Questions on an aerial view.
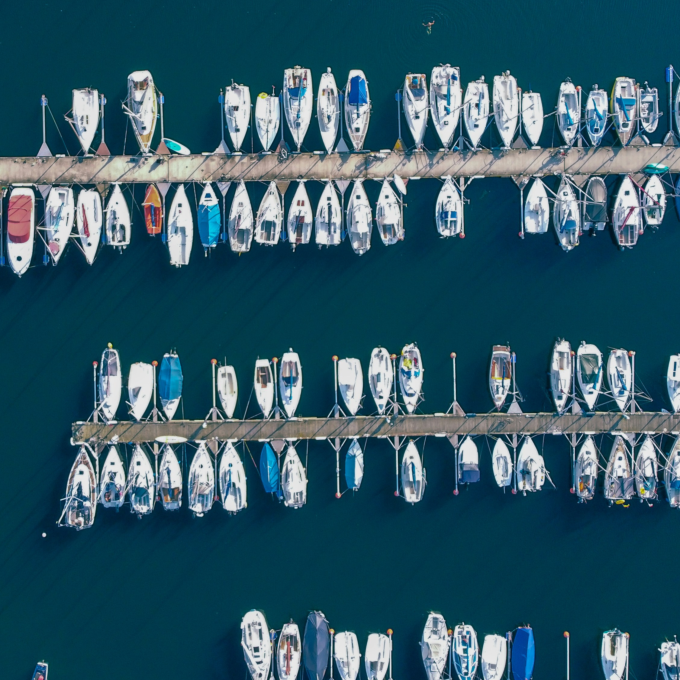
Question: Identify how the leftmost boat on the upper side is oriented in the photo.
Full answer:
In this picture, the leftmost boat on the upper side is oriented up and down.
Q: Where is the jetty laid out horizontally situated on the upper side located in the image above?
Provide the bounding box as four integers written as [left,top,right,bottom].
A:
[0,144,680,185]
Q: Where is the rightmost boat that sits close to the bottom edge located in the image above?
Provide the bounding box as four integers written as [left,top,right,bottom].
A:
[659,637,680,680]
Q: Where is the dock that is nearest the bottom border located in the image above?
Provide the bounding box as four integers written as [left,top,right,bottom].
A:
[72,411,680,446]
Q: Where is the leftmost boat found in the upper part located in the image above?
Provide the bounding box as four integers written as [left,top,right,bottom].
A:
[3,185,43,275]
